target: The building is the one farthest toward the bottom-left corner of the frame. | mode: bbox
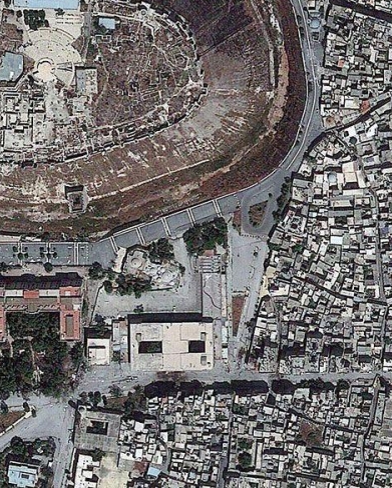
[8,460,40,487]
